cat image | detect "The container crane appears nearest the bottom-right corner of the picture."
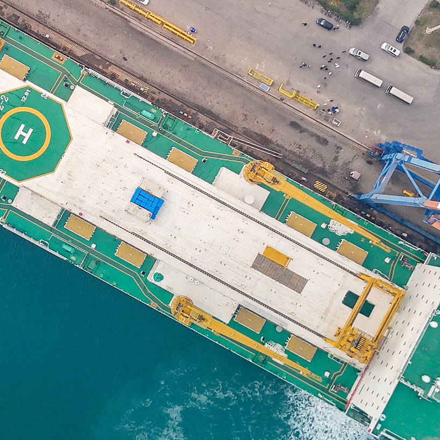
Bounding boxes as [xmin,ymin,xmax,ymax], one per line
[325,274,408,361]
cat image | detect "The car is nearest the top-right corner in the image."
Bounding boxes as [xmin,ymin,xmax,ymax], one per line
[396,24,411,43]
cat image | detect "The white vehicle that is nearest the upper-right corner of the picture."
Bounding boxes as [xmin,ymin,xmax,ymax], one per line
[381,42,402,56]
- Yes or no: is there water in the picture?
Yes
